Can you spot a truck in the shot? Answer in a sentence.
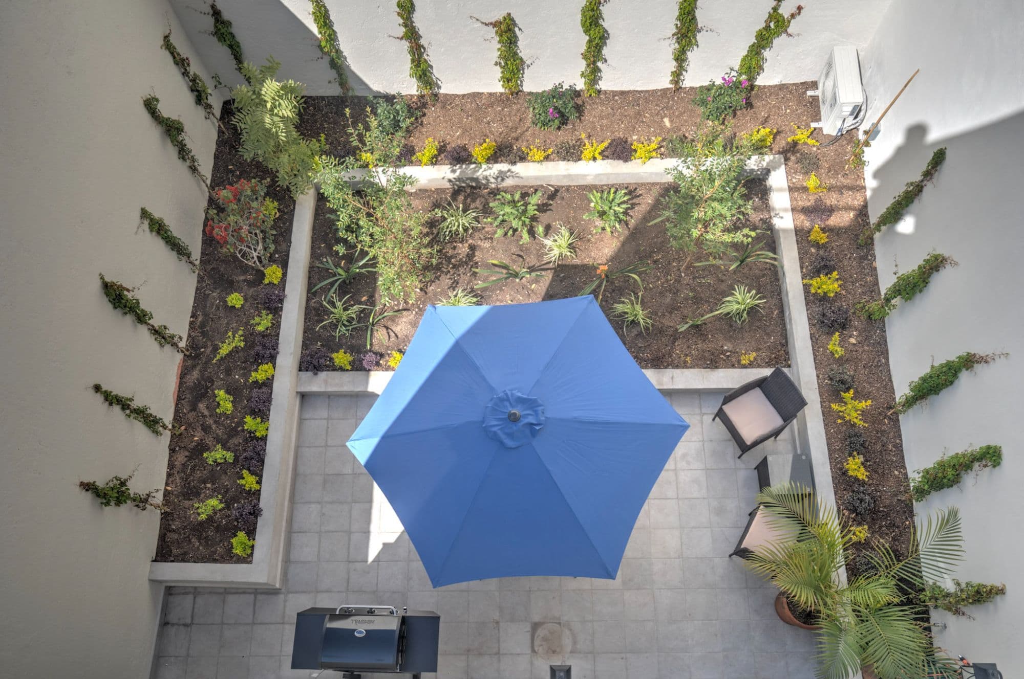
No, there appears to be no truck in this shot.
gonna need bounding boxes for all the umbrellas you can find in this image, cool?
[347,295,692,590]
